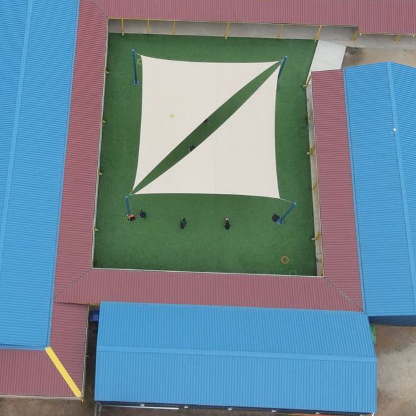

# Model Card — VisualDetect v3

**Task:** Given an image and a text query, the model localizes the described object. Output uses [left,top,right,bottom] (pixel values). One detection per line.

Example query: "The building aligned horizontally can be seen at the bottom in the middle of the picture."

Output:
[54,267,380,416]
